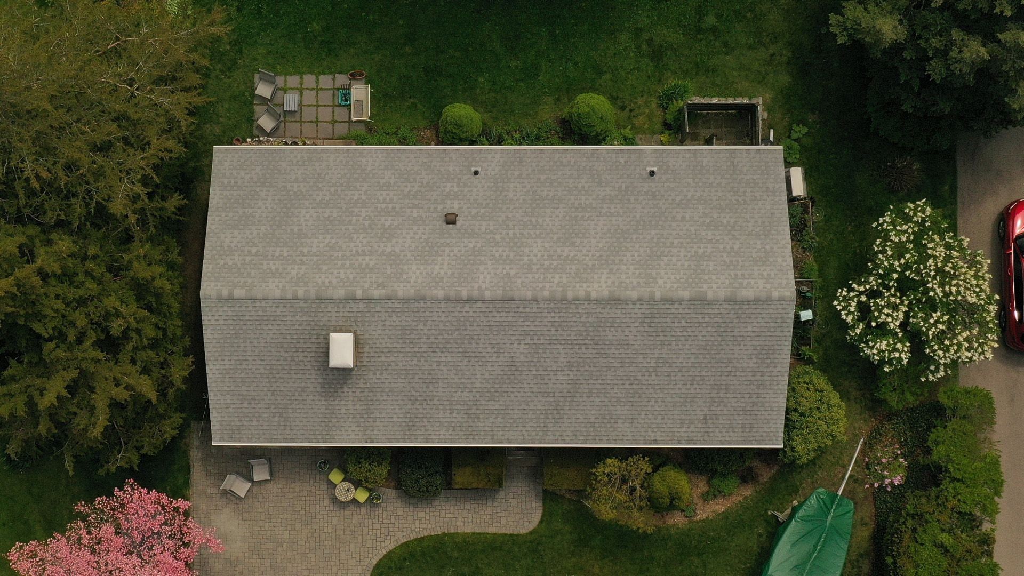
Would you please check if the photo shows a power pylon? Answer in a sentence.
No, the picture doesn't show any power pylon.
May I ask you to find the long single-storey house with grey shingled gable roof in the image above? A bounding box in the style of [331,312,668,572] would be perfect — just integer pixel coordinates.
[199,145,796,447]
